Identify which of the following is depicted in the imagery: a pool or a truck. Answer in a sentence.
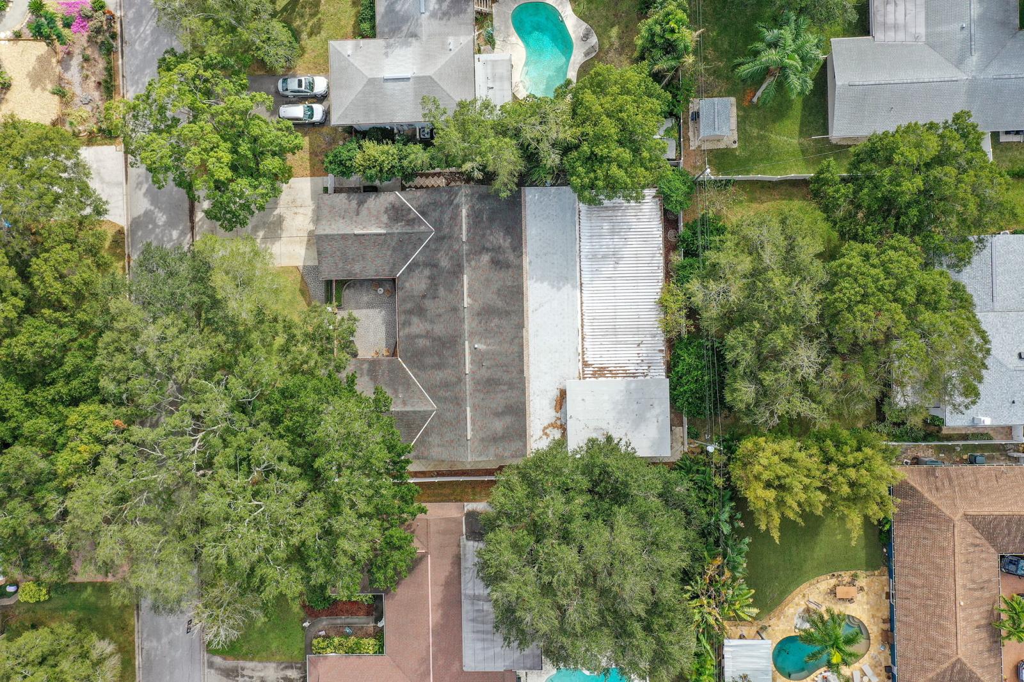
The one in the frame is a pool.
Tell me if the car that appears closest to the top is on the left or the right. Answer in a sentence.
You can find the car that appears closest to the top on the left side of the picture.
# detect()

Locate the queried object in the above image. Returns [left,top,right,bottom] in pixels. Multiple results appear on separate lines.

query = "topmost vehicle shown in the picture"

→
[277,72,327,97]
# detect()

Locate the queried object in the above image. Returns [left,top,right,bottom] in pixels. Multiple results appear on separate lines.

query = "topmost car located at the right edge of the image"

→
[1003,557,1024,579]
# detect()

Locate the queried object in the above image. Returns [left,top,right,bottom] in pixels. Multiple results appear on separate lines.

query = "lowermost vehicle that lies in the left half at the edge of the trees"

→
[279,101,326,125]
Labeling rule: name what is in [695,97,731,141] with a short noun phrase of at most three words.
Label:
shed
